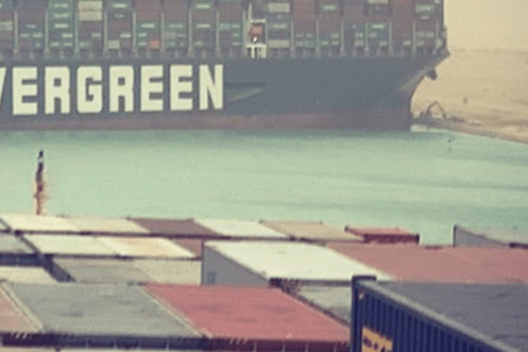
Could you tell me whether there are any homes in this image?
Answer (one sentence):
No, I find no home anywhere in the image.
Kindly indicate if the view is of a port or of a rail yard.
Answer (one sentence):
It's a port.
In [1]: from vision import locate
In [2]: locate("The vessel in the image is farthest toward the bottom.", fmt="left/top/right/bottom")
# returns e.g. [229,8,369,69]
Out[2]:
[32,155,48,215]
